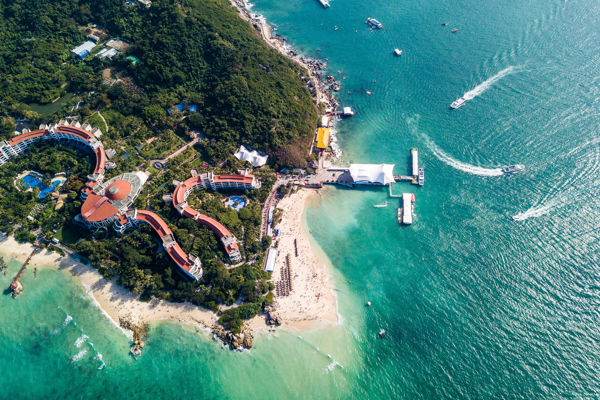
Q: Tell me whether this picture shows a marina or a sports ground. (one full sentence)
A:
This image shows a marina.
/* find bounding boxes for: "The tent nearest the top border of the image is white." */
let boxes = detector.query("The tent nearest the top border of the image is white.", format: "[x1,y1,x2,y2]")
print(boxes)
[236,146,270,167]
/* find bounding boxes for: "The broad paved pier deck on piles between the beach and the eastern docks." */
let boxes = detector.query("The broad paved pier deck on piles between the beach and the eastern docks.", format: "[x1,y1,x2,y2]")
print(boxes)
[322,163,394,189]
